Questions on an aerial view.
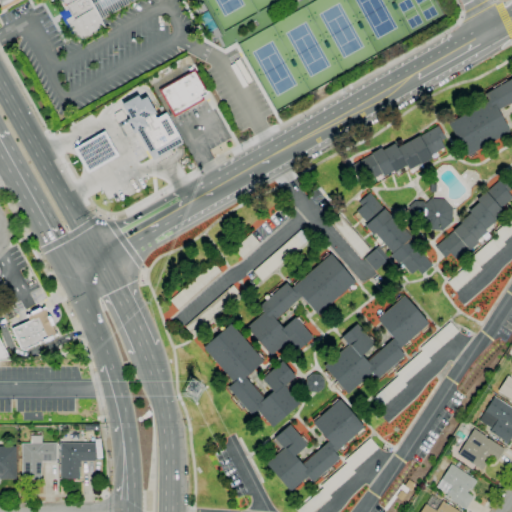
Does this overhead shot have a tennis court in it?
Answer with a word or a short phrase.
Yes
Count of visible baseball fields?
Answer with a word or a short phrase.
zero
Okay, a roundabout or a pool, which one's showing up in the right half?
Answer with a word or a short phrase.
pool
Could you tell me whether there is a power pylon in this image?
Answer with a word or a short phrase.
Yes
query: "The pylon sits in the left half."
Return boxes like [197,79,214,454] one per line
[183,376,207,404]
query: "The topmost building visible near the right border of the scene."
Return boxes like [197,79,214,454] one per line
[452,80,512,154]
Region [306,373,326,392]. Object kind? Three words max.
gazebo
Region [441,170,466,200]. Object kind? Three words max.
swimming pool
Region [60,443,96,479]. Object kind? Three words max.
house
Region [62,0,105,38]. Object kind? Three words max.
building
